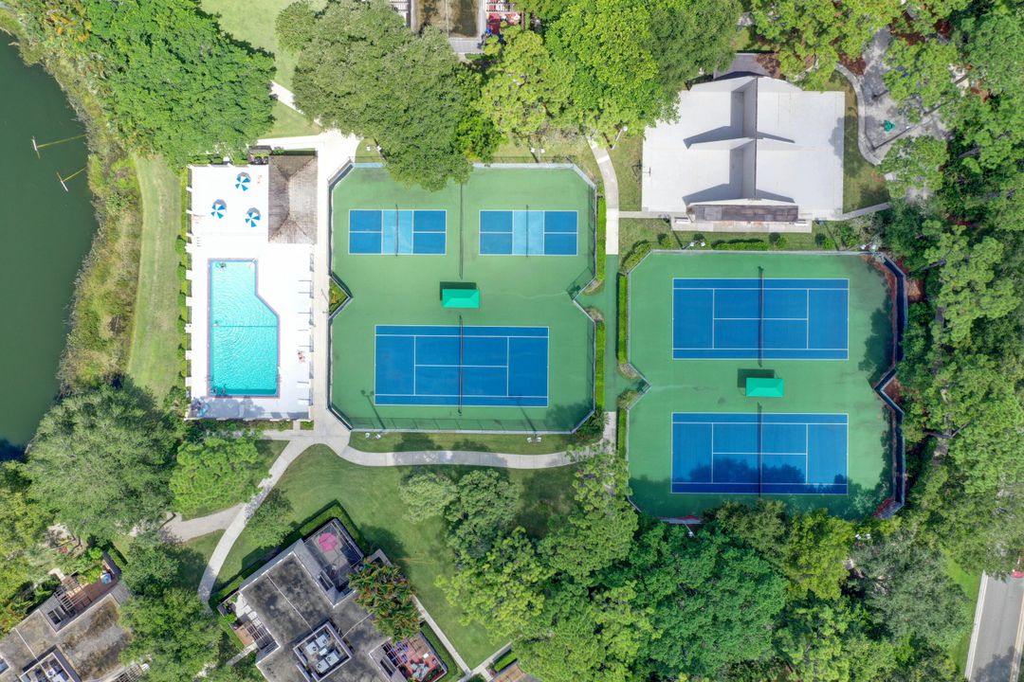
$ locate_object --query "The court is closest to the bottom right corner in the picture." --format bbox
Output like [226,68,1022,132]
[671,405,848,502]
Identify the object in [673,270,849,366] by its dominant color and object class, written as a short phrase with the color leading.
blue tennis court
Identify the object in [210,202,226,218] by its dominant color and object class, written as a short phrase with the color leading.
white umbrella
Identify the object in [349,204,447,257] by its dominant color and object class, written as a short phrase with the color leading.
blue sports court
